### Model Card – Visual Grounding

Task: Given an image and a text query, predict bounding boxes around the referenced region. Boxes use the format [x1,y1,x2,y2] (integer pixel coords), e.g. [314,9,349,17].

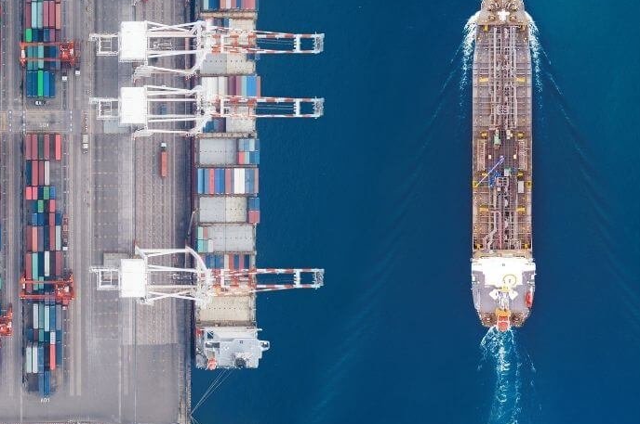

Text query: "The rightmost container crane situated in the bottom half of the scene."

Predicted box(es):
[90,239,322,313]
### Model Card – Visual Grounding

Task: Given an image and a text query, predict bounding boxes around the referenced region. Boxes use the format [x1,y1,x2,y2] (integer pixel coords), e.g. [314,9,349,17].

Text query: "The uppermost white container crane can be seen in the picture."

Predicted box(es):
[90,12,322,82]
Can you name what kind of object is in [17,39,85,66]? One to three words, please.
container crane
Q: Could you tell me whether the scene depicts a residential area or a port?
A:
port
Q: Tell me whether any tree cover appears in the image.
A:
No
